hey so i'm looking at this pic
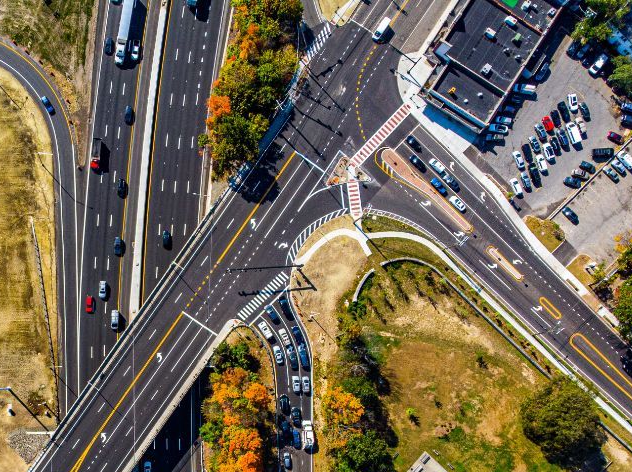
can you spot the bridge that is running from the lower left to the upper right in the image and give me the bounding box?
[36,112,277,472]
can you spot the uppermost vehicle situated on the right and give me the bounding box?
[374,15,394,38]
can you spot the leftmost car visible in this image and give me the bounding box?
[41,96,54,113]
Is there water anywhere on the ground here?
No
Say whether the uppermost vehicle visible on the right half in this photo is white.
Yes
